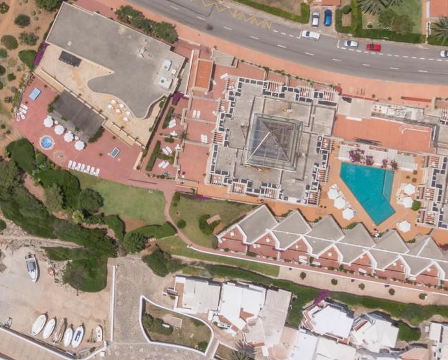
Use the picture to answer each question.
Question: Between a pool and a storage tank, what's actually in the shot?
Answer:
pool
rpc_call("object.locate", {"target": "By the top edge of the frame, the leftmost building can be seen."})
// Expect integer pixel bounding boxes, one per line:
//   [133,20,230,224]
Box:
[47,2,185,117]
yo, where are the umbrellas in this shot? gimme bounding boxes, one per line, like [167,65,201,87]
[43,117,53,127]
[342,209,354,219]
[64,132,74,142]
[404,184,414,194]
[403,196,413,208]
[75,140,85,150]
[399,221,410,232]
[334,198,345,209]
[55,125,65,135]
[327,189,339,199]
